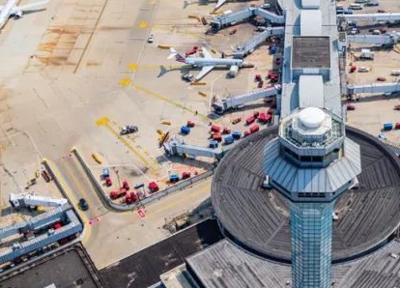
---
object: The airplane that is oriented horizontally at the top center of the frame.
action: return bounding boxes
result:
[178,46,255,80]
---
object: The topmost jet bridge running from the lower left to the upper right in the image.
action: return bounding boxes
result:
[234,29,285,68]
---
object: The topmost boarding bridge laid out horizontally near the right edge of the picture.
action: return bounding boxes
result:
[339,13,400,31]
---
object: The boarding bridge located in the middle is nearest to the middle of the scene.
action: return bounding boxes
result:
[167,142,224,172]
